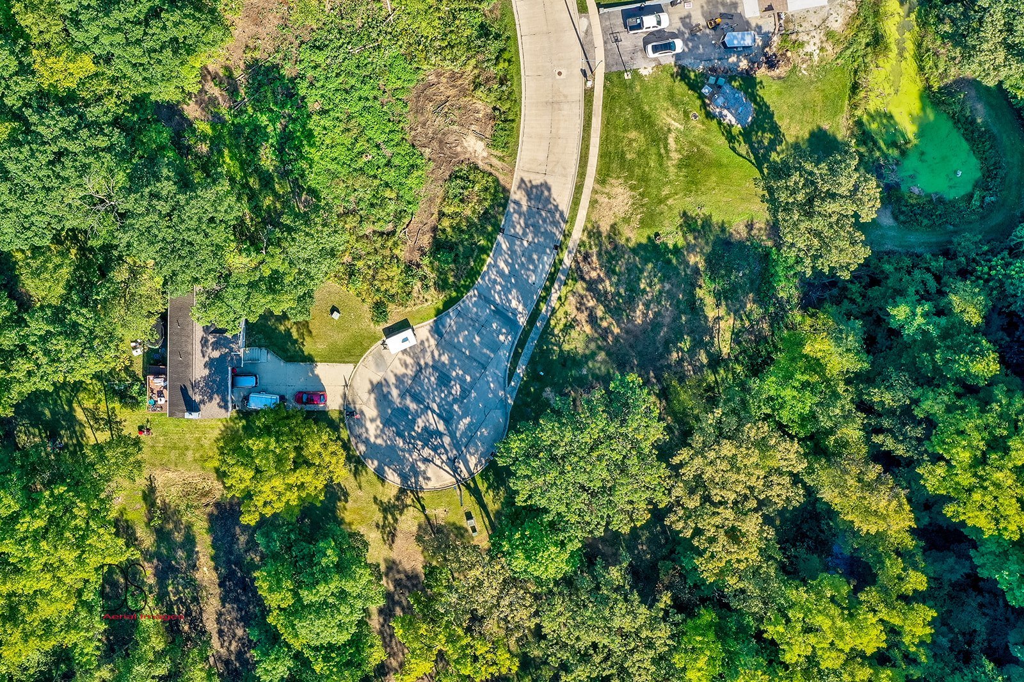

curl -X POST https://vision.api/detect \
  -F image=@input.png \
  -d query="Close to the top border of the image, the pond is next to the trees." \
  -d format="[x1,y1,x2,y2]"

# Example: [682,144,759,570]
[867,0,980,195]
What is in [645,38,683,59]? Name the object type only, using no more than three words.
car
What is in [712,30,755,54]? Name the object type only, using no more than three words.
trailer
